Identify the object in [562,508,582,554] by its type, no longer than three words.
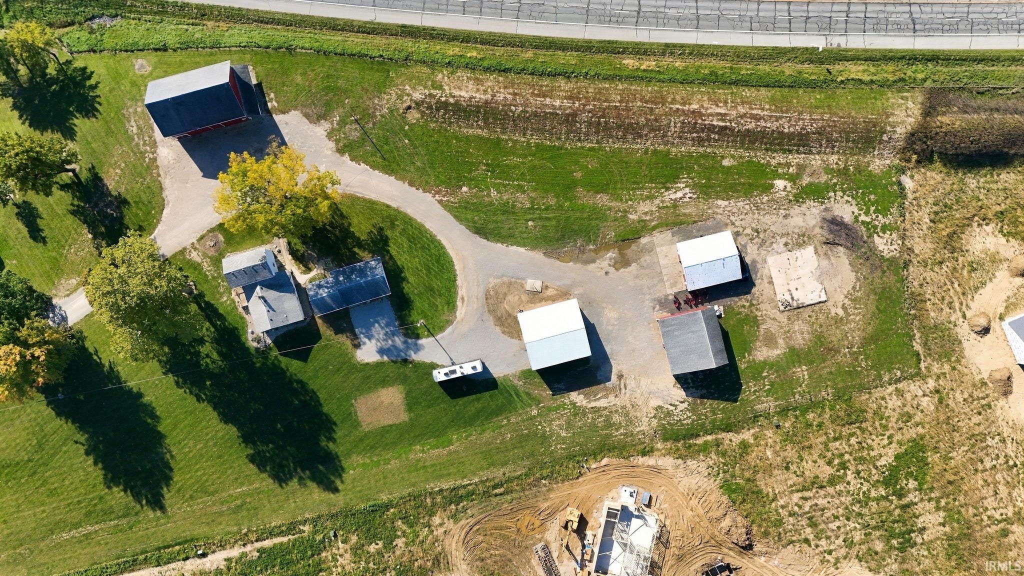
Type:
work vehicle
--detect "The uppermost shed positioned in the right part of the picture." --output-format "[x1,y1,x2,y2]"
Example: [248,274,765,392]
[674,230,743,291]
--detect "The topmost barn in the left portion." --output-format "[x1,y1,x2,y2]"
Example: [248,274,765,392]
[143,60,265,141]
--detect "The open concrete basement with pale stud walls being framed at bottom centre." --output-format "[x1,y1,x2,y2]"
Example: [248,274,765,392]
[593,499,659,576]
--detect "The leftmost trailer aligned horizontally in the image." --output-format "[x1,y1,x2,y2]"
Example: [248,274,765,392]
[431,359,484,381]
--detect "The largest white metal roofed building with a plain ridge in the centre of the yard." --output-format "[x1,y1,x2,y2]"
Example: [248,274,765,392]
[518,298,591,370]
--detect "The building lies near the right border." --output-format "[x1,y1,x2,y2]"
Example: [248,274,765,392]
[995,310,1024,368]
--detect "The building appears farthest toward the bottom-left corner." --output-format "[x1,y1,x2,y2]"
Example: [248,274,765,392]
[222,248,305,334]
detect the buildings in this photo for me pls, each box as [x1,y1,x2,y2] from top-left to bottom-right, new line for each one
[995,310,1024,368]
[518,298,591,370]
[222,248,305,334]
[674,230,743,291]
[655,305,728,375]
[308,257,391,316]
[143,60,265,141]
[593,499,659,576]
